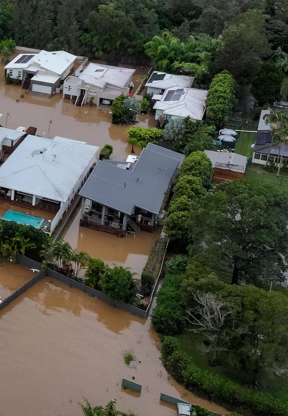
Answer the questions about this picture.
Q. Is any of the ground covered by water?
Yes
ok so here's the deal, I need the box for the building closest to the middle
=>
[77,143,187,246]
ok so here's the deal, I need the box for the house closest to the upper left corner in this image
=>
[4,49,77,97]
